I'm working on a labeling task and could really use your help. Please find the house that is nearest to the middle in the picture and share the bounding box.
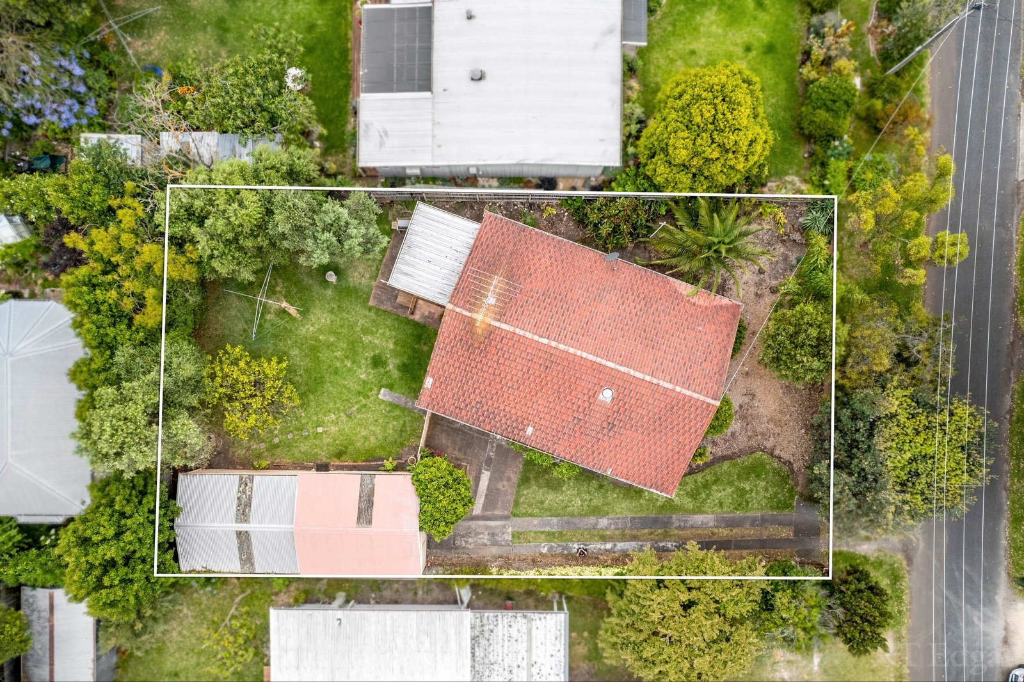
[415,209,744,499]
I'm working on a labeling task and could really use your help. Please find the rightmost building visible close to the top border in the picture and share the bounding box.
[355,0,625,181]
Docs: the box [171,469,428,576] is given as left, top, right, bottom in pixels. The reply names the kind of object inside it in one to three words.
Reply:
building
